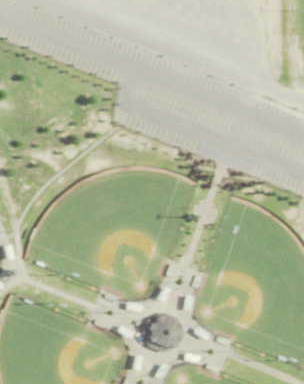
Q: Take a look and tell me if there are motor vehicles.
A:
No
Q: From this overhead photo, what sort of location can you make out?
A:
sports ground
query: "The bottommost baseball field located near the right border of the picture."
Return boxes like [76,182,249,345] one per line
[197,198,304,368]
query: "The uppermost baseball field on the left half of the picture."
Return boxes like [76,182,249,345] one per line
[24,167,196,301]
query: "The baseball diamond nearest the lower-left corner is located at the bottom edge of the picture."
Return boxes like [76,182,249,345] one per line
[0,296,127,384]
